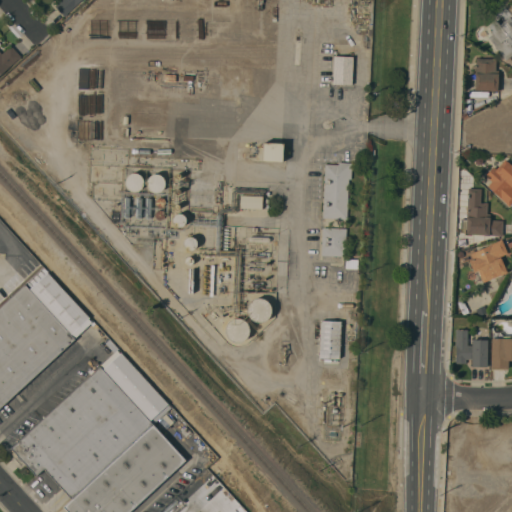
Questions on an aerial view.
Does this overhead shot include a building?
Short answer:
Yes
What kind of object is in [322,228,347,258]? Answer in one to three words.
building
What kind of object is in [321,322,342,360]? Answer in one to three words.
shed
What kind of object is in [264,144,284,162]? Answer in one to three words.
building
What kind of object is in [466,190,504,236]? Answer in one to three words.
house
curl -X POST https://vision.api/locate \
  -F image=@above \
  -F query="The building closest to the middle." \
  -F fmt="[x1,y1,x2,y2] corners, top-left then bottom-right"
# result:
[240,196,263,209]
